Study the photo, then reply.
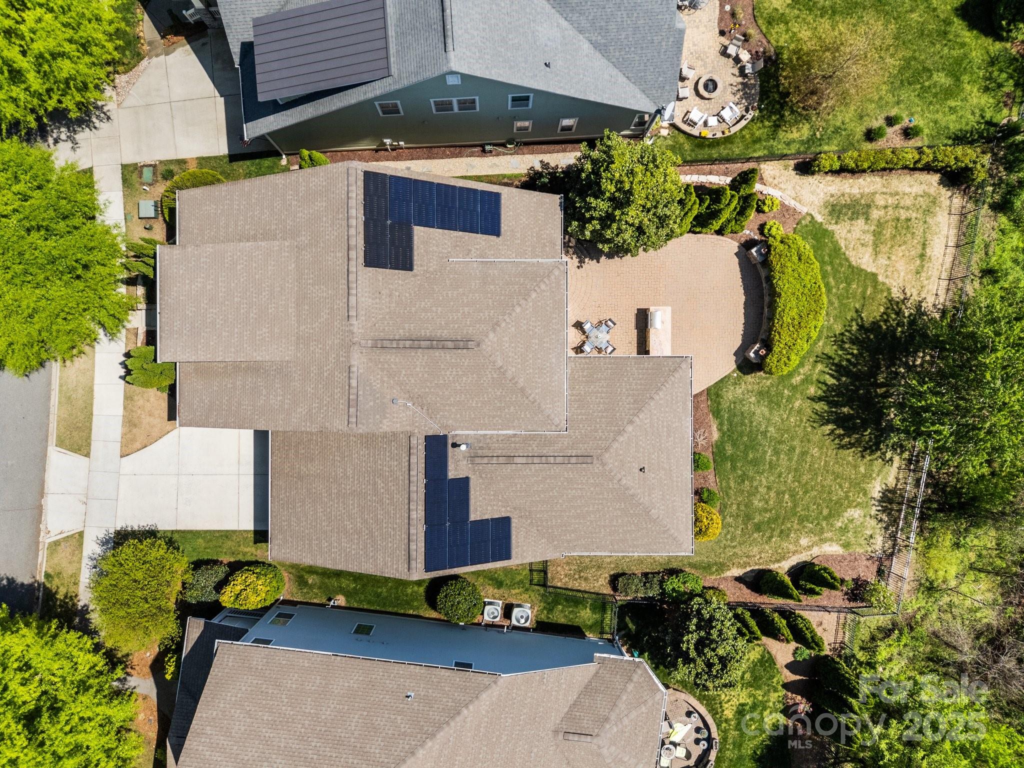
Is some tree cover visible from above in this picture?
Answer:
Yes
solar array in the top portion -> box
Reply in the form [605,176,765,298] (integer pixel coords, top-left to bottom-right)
[362,171,503,271]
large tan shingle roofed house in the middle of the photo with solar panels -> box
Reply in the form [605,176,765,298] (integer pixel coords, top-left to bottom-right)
[154,160,696,580]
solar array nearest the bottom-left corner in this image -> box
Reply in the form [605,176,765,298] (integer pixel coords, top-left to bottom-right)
[391,398,514,572]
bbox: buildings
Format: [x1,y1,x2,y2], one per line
[154,160,696,580]
[164,596,670,768]
[182,0,687,155]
